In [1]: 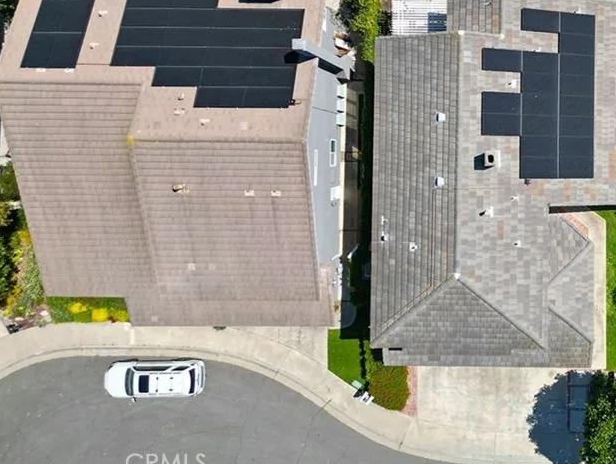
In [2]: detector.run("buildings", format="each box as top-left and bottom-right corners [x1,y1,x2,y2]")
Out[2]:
[0,0,350,328]
[370,0,616,368]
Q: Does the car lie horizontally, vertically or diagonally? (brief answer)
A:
horizontally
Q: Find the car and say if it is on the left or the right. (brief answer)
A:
left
